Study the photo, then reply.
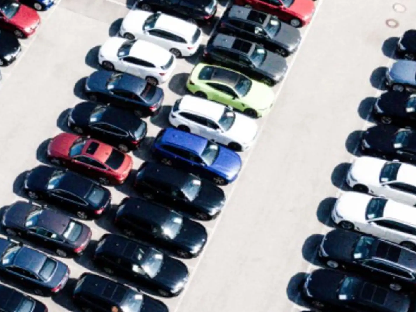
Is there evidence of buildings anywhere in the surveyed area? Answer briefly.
No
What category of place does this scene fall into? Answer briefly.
parking lot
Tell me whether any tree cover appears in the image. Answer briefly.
No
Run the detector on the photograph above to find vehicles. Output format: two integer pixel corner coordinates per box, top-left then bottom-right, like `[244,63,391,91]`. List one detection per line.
[90,231,189,299]
[0,201,94,260]
[119,10,201,58]
[110,196,207,260]
[397,27,416,58]
[0,237,74,300]
[333,191,416,250]
[0,27,22,68]
[183,62,272,118]
[348,157,416,209]
[20,165,113,222]
[319,230,416,292]
[213,3,302,57]
[200,31,286,87]
[165,93,258,153]
[41,133,133,187]
[231,0,314,27]
[0,283,52,312]
[127,159,226,223]
[384,57,416,90]
[103,41,182,87]
[68,270,171,312]
[359,122,416,167]
[137,0,215,26]
[371,89,416,129]
[66,102,147,153]
[0,0,43,40]
[147,125,240,187]
[80,70,168,120]
[302,268,415,312]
